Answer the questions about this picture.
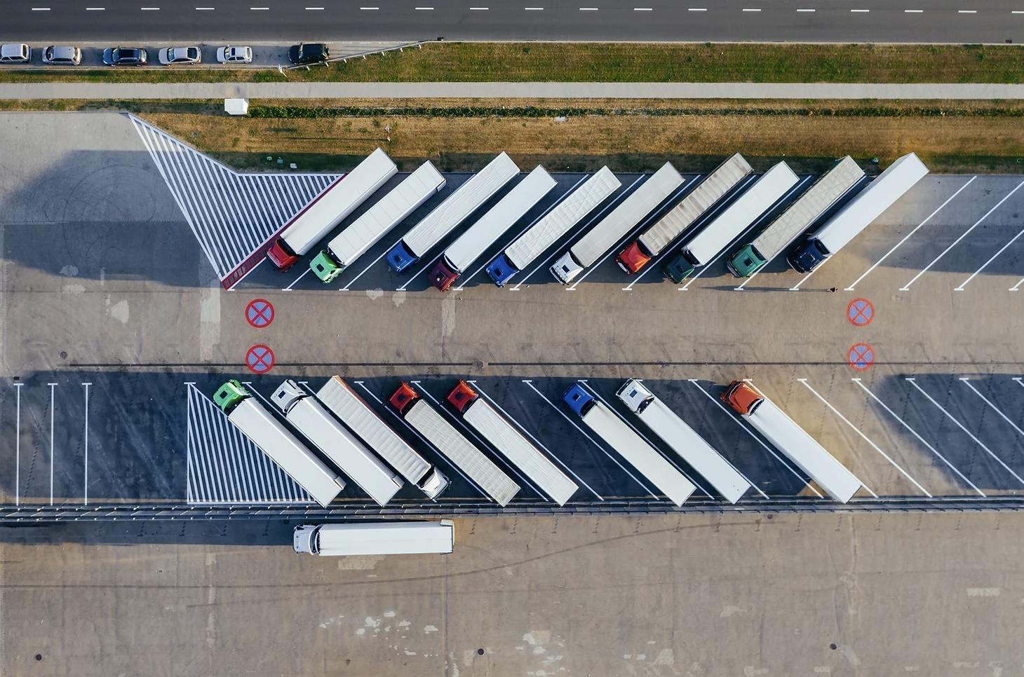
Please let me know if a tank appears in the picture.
No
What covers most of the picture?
paved ground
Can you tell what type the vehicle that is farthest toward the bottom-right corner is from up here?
truck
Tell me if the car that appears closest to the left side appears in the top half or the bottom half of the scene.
top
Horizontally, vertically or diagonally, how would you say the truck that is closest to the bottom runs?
horizontally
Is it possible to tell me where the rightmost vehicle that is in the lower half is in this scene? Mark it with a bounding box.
[722,379,862,504]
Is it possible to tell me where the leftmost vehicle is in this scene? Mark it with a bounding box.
[0,43,34,65]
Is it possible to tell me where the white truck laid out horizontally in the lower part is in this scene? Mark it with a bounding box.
[297,519,455,556]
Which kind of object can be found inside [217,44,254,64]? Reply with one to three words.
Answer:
car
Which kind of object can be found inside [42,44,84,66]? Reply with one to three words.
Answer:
car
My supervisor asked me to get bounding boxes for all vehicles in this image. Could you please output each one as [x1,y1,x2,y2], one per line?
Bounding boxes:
[42,44,84,66]
[725,155,865,281]
[0,43,34,65]
[617,377,751,504]
[311,160,449,283]
[317,376,452,500]
[662,161,800,284]
[264,147,400,273]
[271,379,406,507]
[159,45,204,66]
[722,379,862,504]
[297,519,455,556]
[385,151,520,276]
[288,42,330,64]
[214,381,349,507]
[550,161,685,287]
[426,165,557,291]
[561,381,697,507]
[485,165,622,289]
[617,151,754,275]
[217,44,254,64]
[787,152,930,274]
[444,379,579,506]
[387,380,521,507]
[103,46,149,68]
